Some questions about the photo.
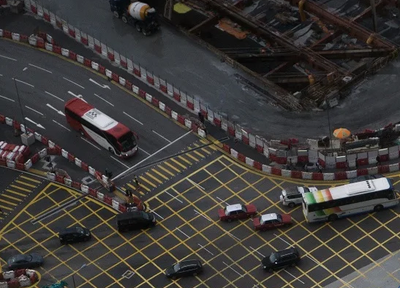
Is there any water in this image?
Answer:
No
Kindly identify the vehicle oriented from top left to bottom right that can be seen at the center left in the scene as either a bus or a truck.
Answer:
bus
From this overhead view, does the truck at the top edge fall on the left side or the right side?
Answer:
left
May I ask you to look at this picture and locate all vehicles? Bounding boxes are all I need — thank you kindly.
[254,213,291,230]
[220,203,255,220]
[110,0,161,33]
[8,250,43,268]
[166,258,201,277]
[65,100,137,156]
[59,227,90,244]
[282,185,314,205]
[303,177,399,220]
[116,207,154,231]
[261,248,298,270]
